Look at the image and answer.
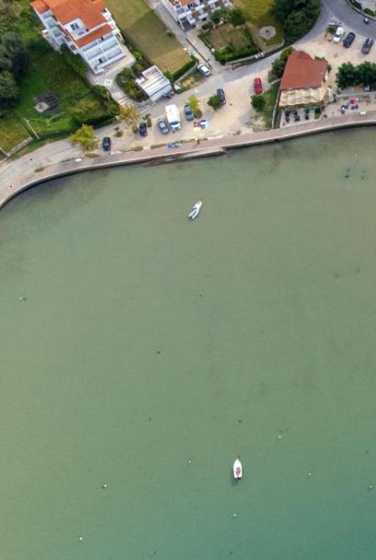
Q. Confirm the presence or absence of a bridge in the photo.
No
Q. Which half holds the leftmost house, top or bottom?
top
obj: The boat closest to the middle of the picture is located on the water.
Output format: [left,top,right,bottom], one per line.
[186,200,201,221]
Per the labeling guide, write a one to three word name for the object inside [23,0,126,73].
house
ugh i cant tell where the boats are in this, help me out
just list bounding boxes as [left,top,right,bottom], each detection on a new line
[186,200,201,221]
[232,458,242,482]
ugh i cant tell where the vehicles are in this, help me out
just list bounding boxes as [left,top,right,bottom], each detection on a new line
[197,62,211,77]
[165,102,182,132]
[157,120,169,137]
[362,38,374,54]
[183,104,191,122]
[101,137,112,153]
[344,33,355,48]
[331,26,344,41]
[138,122,148,138]
[217,88,227,104]
[253,78,264,93]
